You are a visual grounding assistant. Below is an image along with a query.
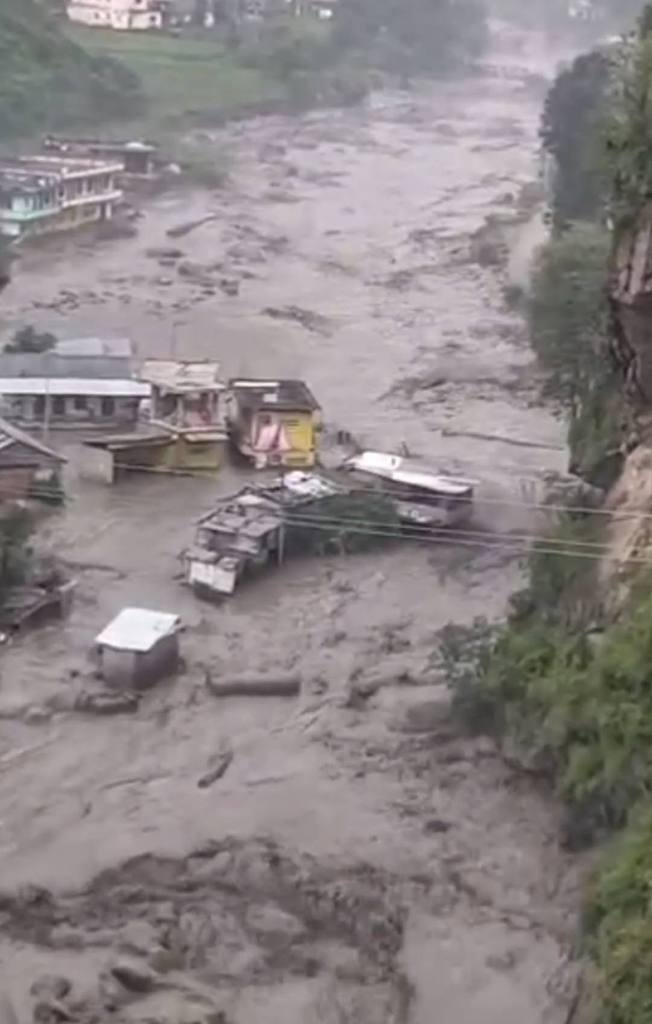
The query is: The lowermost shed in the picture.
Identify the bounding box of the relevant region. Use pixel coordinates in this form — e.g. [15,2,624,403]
[95,609,186,692]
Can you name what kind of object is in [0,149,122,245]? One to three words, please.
building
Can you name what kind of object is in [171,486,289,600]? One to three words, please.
shed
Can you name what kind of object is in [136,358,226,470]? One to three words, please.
house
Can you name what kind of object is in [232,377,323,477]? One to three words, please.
house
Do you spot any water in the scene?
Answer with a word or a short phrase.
Yes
